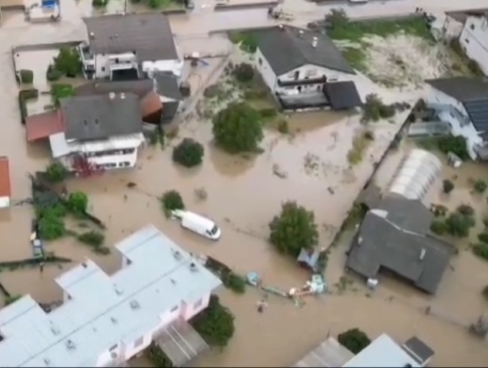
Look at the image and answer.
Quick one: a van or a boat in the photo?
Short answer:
van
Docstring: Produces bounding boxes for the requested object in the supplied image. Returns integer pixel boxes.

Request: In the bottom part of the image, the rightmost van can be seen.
[169,204,222,242]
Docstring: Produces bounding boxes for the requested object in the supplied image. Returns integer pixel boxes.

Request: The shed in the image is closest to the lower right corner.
[402,337,434,368]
